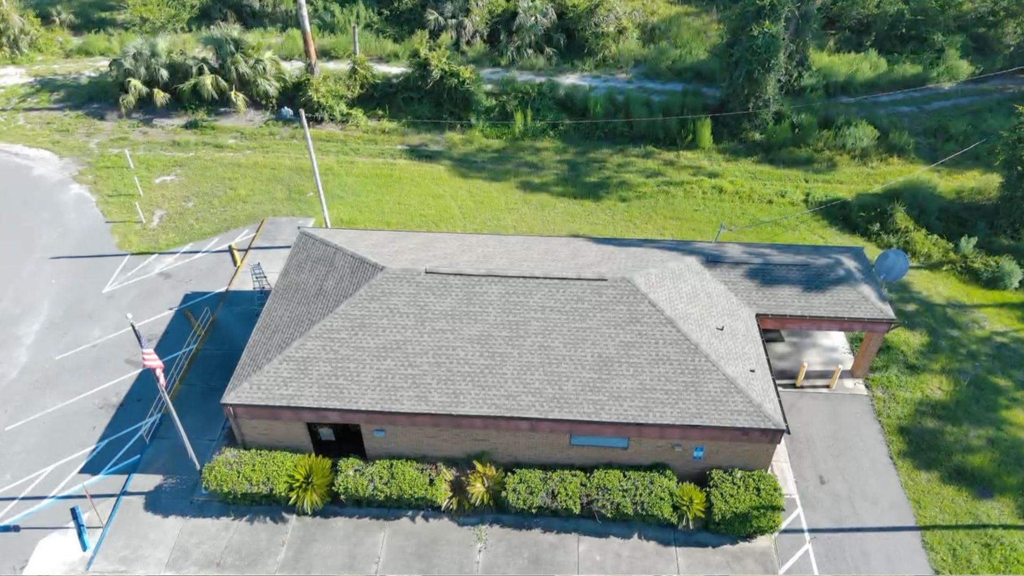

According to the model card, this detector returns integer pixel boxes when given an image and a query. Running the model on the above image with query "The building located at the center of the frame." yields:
[220,216,903,480]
